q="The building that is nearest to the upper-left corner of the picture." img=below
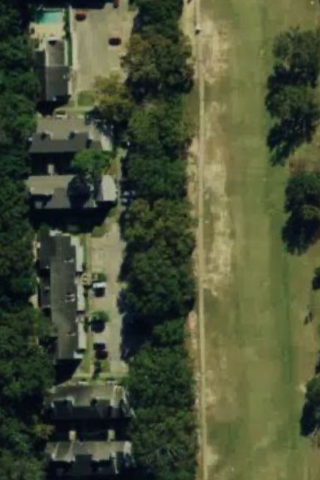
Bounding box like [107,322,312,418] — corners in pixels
[34,36,68,101]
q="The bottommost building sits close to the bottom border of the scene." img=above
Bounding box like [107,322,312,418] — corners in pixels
[44,430,127,476]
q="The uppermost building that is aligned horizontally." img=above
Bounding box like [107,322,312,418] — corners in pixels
[26,113,112,151]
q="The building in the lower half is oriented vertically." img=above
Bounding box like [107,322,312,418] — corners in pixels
[39,231,86,358]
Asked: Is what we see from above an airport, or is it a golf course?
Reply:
golf course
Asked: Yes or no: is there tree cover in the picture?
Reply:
Yes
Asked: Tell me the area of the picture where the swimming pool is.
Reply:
top left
